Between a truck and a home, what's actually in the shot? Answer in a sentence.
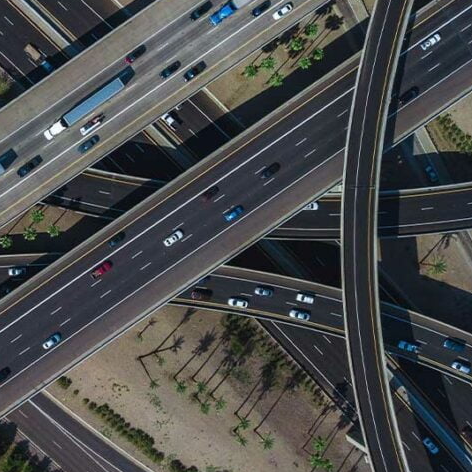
It is a truck that can be seen here.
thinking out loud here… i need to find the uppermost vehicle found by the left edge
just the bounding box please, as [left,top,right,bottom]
[23,44,50,70]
